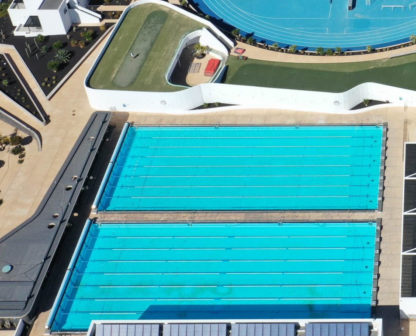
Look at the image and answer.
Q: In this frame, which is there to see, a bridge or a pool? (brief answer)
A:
pool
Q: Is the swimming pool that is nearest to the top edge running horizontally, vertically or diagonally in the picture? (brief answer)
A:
horizontally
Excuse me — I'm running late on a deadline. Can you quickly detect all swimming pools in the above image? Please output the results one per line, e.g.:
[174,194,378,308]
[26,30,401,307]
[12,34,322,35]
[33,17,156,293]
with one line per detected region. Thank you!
[40,216,382,334]
[88,119,389,214]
